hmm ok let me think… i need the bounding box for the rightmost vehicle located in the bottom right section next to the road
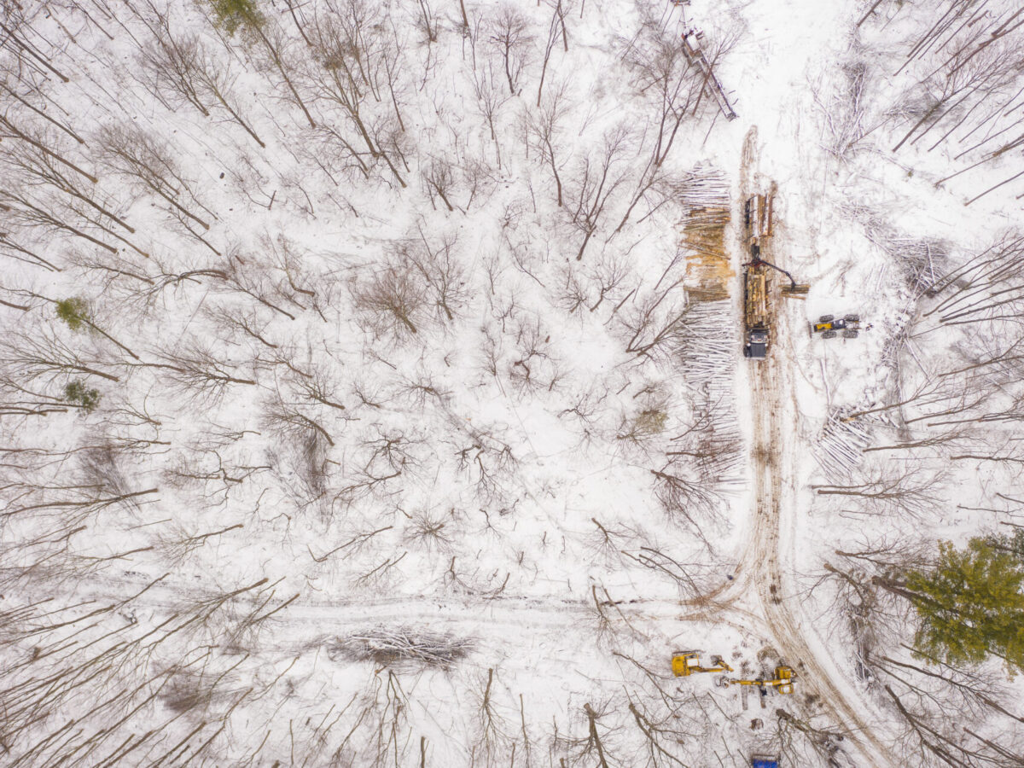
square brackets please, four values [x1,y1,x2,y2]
[717,666,799,694]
